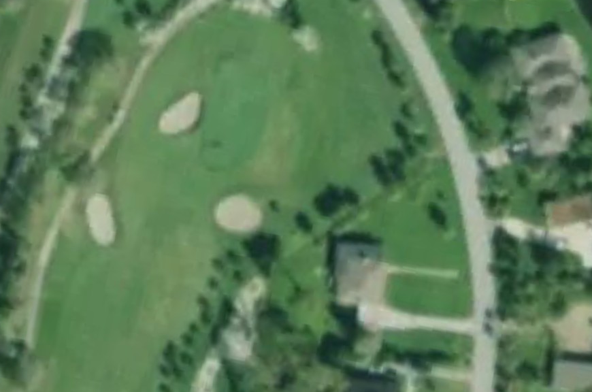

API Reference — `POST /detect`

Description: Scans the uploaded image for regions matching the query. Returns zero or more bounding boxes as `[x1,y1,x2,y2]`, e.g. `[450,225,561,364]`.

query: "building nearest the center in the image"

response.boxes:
[335,241,382,306]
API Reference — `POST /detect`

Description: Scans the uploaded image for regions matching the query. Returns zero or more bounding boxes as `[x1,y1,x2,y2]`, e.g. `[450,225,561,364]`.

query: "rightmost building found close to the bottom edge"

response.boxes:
[555,360,592,392]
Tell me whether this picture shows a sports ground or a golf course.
golf course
